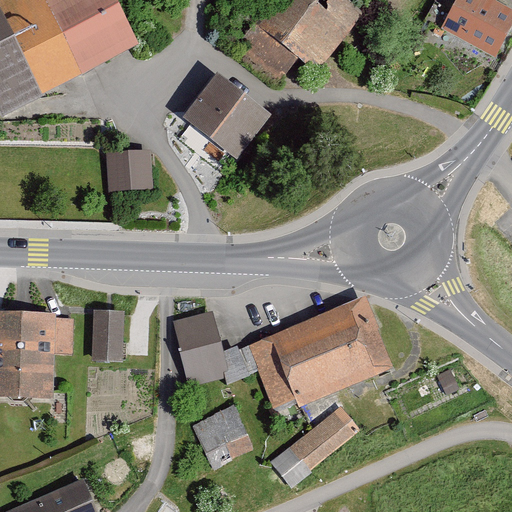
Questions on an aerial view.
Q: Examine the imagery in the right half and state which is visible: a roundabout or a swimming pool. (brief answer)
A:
roundabout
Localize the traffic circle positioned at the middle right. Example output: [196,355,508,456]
[330,175,454,299]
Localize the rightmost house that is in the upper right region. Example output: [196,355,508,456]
[443,0,512,56]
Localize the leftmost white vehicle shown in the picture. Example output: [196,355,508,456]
[44,295,61,316]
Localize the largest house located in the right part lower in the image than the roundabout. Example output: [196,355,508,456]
[248,296,394,409]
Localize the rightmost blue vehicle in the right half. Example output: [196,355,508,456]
[310,291,324,310]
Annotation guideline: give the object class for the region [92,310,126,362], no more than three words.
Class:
shed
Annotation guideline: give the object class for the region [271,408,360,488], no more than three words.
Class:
barn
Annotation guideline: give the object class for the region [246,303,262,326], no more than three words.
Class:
car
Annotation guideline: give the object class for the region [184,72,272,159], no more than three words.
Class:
house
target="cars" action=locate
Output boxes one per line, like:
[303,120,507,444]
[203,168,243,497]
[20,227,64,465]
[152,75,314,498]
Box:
[246,303,262,326]
[228,78,250,94]
[264,302,279,326]
[310,291,324,310]
[44,295,61,316]
[8,238,28,248]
